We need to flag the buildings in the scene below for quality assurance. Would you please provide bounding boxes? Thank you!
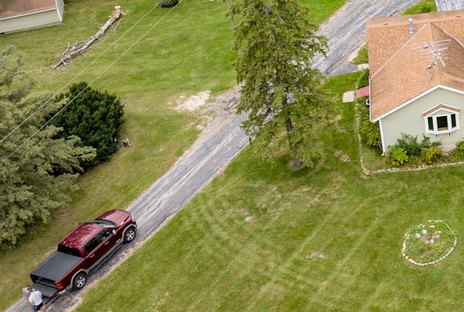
[0,0,64,32]
[365,10,464,157]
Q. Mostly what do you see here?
grass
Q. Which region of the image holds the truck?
bottom left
